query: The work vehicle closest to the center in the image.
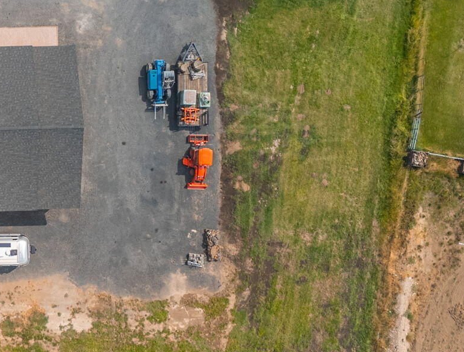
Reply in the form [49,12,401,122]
[185,134,215,191]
